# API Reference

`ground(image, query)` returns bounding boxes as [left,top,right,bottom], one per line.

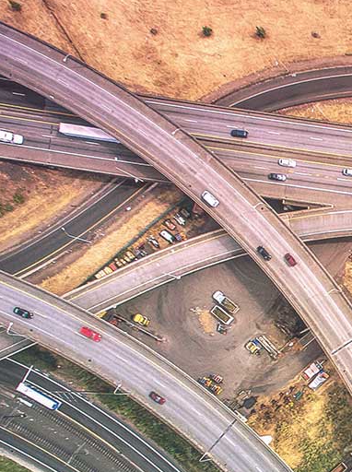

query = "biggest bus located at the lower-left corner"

[12,381,59,409]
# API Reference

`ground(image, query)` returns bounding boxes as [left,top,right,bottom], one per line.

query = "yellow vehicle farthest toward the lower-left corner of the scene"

[128,312,150,326]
